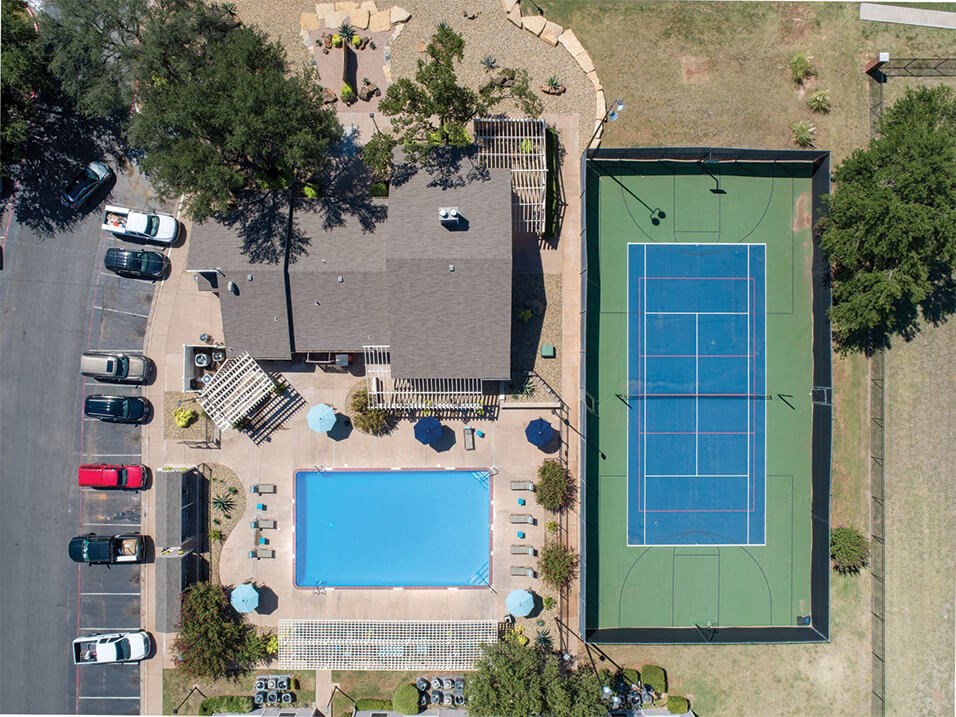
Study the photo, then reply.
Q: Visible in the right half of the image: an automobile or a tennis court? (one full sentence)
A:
Looking in the right half of the image, you will find a tennis court.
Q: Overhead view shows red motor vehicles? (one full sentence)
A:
Yes, the image includes a red motor vehicle.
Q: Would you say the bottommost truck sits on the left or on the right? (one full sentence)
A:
The bottommost truck sits on the left side.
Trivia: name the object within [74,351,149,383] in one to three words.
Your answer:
car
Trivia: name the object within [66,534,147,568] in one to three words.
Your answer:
truck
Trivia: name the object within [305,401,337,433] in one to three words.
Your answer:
umbrella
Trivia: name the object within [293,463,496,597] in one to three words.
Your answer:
swimming pool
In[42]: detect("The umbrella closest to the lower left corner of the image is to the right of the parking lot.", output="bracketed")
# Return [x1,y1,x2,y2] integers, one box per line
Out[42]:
[231,583,260,612]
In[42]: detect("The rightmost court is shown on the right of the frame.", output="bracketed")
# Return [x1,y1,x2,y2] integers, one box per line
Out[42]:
[580,161,812,628]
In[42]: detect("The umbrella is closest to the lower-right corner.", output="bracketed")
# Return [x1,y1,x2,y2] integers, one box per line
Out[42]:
[504,586,535,618]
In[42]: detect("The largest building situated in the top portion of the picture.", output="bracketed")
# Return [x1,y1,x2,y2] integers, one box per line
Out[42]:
[186,148,513,381]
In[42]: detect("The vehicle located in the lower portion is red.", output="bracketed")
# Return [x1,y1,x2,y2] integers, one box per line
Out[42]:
[74,462,148,493]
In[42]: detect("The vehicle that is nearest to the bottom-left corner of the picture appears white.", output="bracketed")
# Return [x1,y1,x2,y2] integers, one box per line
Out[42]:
[69,629,153,667]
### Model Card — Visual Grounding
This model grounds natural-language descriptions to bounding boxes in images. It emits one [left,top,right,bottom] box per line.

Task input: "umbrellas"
[526,417,556,448]
[231,583,260,612]
[504,586,535,618]
[305,401,337,433]
[414,415,443,445]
